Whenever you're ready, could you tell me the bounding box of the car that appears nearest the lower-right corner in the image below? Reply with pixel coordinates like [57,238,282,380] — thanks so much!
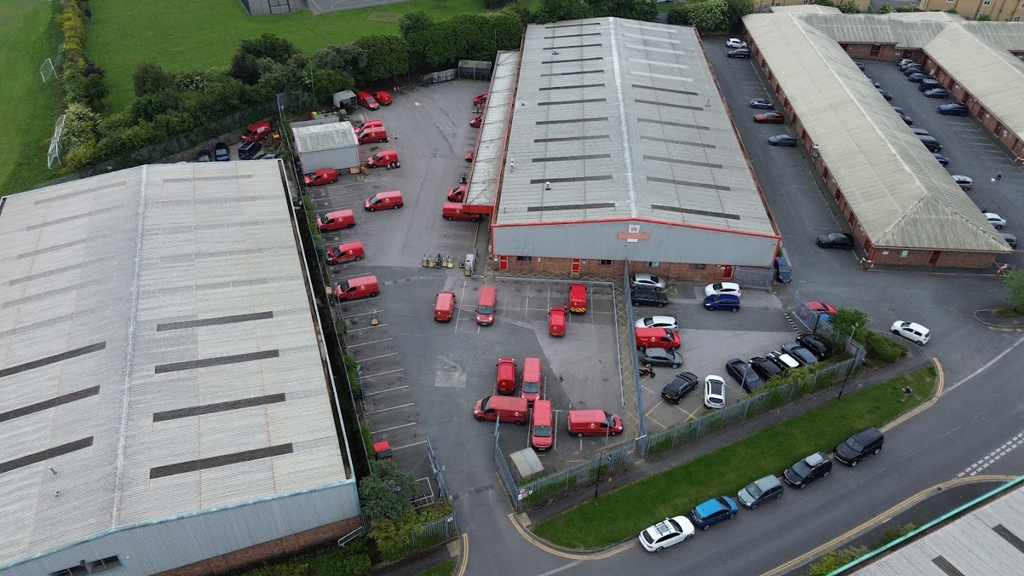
[833,426,887,465]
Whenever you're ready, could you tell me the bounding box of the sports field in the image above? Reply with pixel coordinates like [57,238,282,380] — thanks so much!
[0,0,86,193]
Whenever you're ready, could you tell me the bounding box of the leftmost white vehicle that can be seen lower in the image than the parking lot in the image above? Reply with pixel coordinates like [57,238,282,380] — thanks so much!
[638,518,695,554]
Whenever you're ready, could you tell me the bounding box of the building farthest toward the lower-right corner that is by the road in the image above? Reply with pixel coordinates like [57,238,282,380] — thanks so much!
[824,475,1024,576]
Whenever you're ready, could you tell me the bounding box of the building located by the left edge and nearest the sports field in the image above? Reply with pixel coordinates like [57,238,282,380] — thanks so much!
[0,157,365,576]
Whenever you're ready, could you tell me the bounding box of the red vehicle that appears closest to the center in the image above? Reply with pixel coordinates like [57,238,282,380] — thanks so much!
[476,284,496,322]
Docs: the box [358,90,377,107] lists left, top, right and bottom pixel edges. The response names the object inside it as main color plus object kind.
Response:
red vehicle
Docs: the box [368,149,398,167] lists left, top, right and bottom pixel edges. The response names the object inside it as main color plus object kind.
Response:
red vehicle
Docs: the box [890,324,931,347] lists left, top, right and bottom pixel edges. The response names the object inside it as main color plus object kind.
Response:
white car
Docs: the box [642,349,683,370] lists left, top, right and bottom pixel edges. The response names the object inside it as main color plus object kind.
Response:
gray car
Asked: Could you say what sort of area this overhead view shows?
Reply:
industrial area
